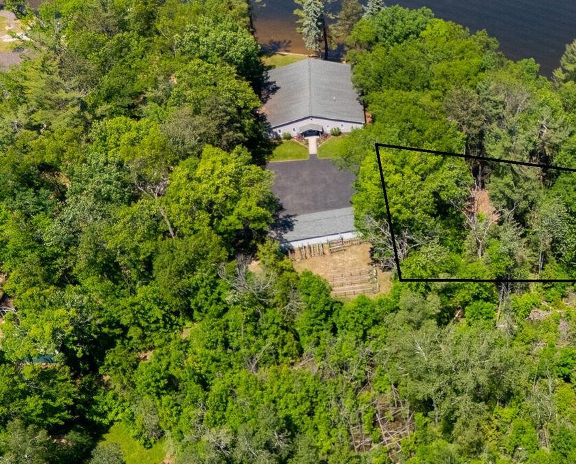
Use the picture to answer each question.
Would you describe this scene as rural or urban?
rural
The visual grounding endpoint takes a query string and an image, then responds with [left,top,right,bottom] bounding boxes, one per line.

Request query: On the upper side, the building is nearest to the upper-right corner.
[271,60,369,143]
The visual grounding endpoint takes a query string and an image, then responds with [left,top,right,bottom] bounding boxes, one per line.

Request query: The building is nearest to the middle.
[278,207,367,252]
